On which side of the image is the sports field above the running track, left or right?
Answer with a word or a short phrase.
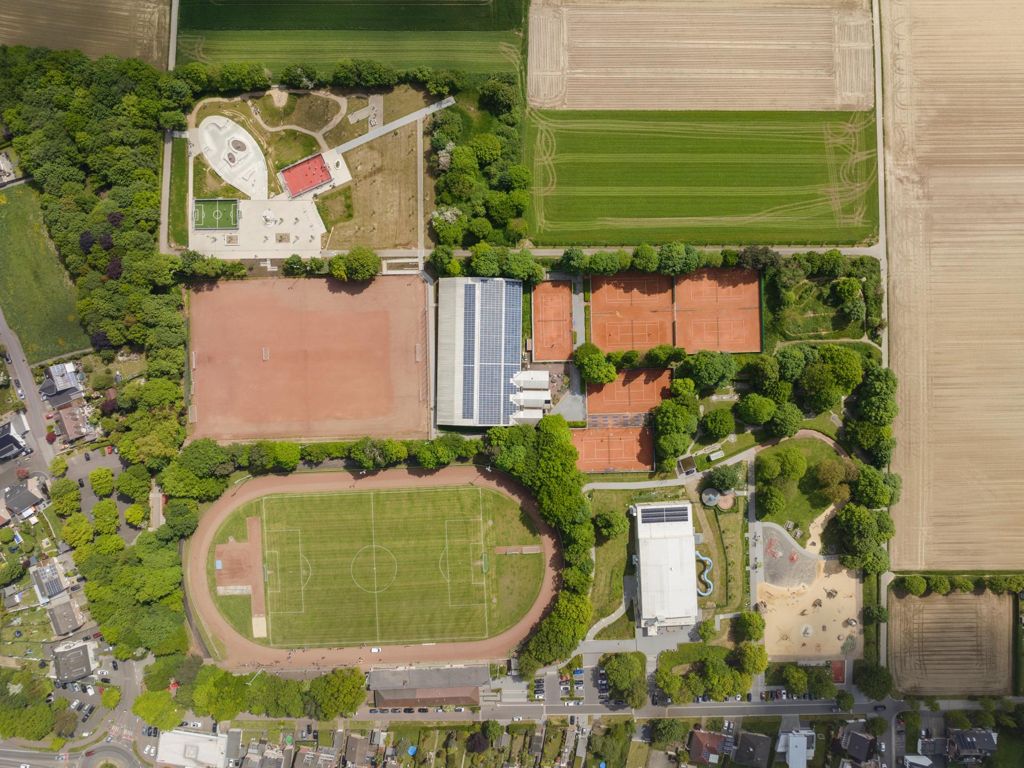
left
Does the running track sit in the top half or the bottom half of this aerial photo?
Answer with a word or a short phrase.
bottom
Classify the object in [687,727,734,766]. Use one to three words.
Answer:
house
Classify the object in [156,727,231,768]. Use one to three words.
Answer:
building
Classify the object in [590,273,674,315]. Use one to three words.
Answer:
tennis court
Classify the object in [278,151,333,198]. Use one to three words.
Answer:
sports court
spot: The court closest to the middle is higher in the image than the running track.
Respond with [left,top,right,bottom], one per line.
[533,280,573,361]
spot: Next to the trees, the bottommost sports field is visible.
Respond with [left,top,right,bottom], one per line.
[206,486,545,649]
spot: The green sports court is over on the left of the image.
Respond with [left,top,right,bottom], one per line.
[189,197,242,230]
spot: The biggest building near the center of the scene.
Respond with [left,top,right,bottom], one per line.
[437,278,523,425]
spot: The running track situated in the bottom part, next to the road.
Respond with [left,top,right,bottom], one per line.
[189,466,564,668]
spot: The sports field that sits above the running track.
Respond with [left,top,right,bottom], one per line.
[186,274,429,445]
